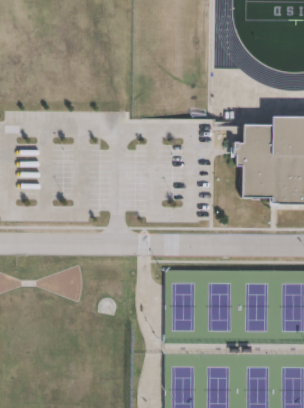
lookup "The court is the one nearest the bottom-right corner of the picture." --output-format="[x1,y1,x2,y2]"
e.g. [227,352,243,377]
[282,367,304,408]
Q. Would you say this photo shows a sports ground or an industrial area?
sports ground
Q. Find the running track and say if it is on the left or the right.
right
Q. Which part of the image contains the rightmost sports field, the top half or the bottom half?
top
